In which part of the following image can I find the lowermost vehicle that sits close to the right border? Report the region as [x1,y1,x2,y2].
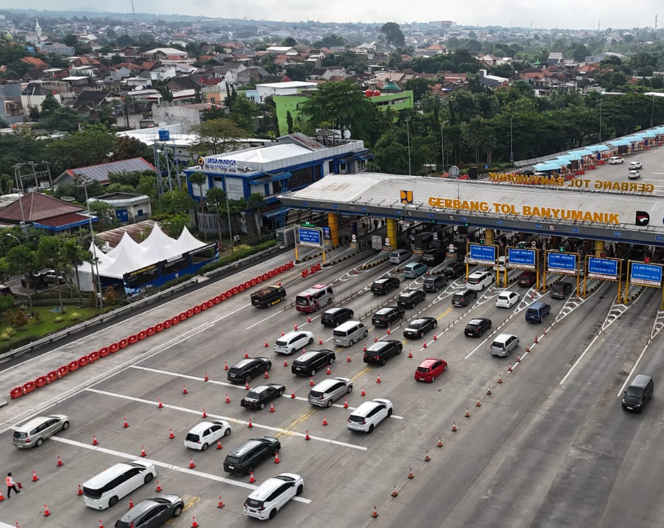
[622,373,653,412]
